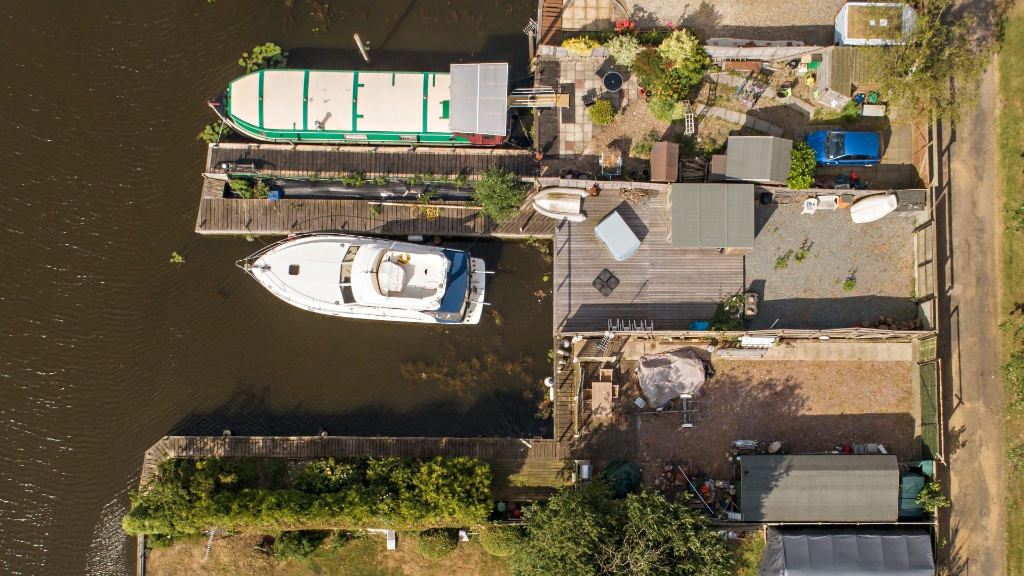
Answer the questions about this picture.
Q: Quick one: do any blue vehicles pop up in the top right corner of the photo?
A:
Yes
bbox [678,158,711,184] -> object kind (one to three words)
building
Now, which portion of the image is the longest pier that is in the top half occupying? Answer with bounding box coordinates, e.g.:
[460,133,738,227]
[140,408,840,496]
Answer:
[196,142,555,238]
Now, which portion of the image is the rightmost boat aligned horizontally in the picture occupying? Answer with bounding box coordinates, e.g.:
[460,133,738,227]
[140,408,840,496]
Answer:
[848,198,903,230]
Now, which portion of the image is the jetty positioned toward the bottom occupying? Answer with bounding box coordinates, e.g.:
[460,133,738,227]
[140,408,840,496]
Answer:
[138,436,575,492]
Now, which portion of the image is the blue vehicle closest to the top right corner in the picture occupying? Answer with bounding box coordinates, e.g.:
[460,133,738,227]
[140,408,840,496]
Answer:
[799,126,883,167]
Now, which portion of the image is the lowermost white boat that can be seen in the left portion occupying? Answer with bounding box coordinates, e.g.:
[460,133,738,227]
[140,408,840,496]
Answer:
[234,234,495,326]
